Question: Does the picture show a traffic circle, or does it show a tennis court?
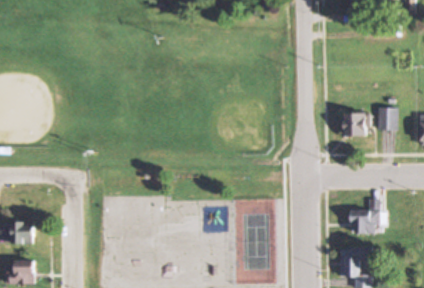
tennis court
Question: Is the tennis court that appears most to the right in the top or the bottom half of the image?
bottom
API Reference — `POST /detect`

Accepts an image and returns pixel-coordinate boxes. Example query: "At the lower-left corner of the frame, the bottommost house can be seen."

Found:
[0,261,37,286]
